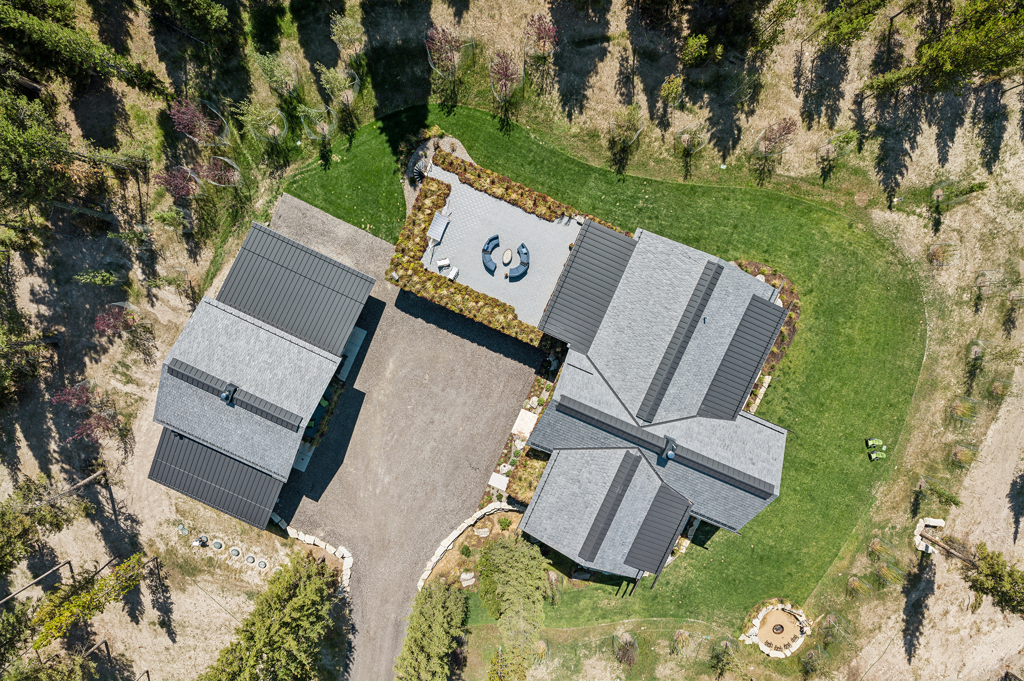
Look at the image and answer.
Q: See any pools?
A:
No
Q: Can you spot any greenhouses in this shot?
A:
No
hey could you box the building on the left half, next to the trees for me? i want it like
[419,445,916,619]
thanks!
[147,220,376,532]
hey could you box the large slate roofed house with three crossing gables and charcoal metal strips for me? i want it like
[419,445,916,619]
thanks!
[514,219,795,596]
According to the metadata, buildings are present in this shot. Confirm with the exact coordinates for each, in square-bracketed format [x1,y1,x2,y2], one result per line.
[514,219,795,596]
[147,220,376,532]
